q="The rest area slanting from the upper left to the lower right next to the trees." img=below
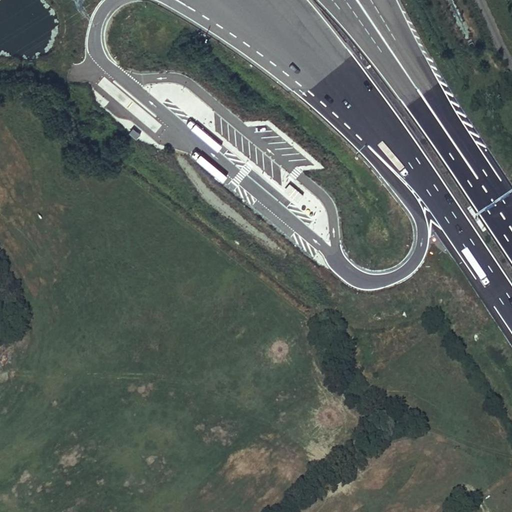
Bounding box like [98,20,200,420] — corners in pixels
[68,44,352,271]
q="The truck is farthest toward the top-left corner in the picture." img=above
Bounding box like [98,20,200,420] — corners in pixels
[186,120,222,152]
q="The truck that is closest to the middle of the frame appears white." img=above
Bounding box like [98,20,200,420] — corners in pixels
[191,151,227,183]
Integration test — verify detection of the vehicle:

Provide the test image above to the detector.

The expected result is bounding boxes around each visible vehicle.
[462,247,491,286]
[324,94,334,104]
[342,98,352,109]
[289,64,300,73]
[186,120,222,152]
[444,192,454,204]
[255,126,266,132]
[191,151,227,183]
[364,80,373,90]
[378,141,410,176]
